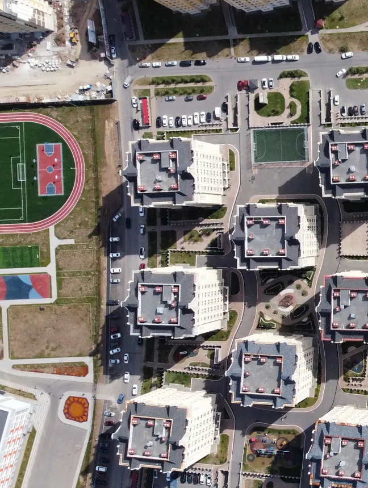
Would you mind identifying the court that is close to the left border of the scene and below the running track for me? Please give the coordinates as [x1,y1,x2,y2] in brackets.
[0,274,50,299]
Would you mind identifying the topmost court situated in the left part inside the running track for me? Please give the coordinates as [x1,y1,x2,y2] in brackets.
[29,143,63,196]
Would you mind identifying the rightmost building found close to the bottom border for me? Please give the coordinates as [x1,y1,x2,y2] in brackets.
[307,400,368,488]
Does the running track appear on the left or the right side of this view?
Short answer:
left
